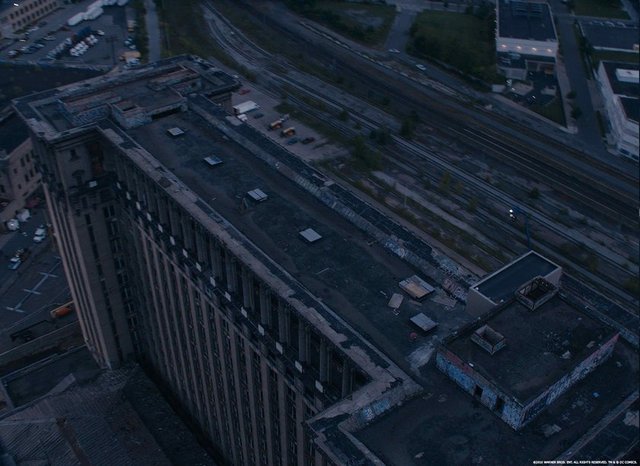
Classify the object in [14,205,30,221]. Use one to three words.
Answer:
vehicle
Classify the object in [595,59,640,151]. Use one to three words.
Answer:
building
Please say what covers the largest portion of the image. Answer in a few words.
buildings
